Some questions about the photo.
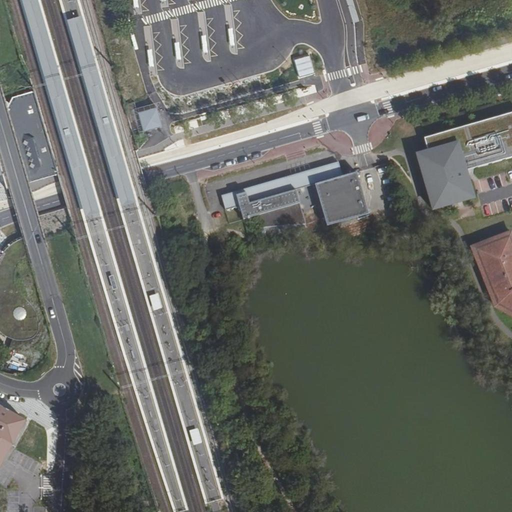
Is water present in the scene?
Yes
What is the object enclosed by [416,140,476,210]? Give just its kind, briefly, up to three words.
building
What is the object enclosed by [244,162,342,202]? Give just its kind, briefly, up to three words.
building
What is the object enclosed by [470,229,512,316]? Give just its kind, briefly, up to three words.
house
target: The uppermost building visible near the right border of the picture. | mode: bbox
[424,112,512,170]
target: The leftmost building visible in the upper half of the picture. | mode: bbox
[8,92,56,182]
